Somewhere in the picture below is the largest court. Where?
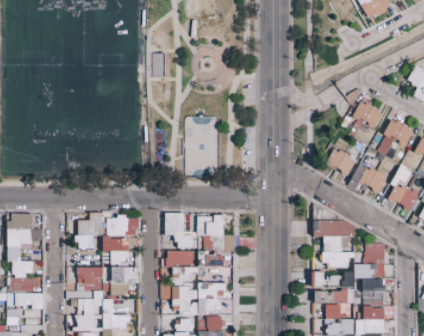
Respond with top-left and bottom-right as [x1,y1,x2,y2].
[184,117,218,176]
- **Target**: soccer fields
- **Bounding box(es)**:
[1,0,141,173]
